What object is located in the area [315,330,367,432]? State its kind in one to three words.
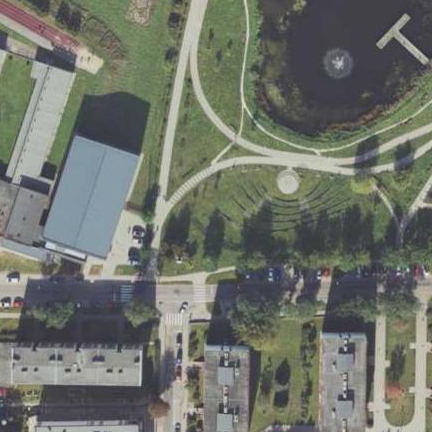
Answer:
building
